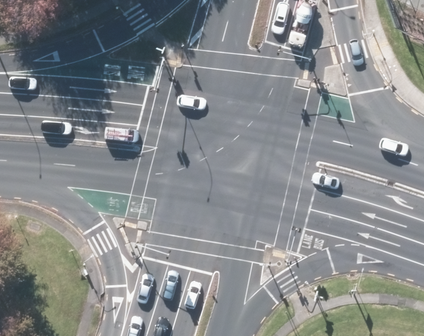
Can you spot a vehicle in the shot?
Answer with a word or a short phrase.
Yes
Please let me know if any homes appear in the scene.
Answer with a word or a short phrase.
No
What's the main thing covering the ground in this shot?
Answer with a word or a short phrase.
paved ground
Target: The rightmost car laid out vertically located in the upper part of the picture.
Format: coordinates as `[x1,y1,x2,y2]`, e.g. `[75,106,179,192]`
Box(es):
[348,38,364,66]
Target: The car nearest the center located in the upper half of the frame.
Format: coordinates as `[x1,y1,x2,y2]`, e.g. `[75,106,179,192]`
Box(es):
[176,94,206,110]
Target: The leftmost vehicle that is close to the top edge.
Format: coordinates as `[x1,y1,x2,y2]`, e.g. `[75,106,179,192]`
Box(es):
[272,2,290,34]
